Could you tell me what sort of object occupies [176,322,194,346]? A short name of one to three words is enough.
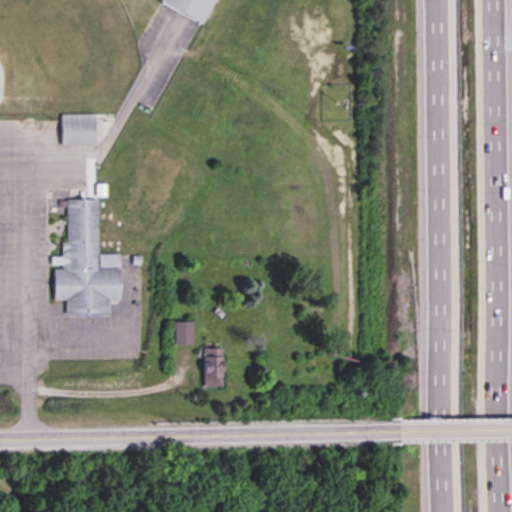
building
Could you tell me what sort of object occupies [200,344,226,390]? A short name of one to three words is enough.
house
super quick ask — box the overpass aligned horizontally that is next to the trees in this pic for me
[393,418,512,445]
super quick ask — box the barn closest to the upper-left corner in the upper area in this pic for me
[61,114,96,144]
